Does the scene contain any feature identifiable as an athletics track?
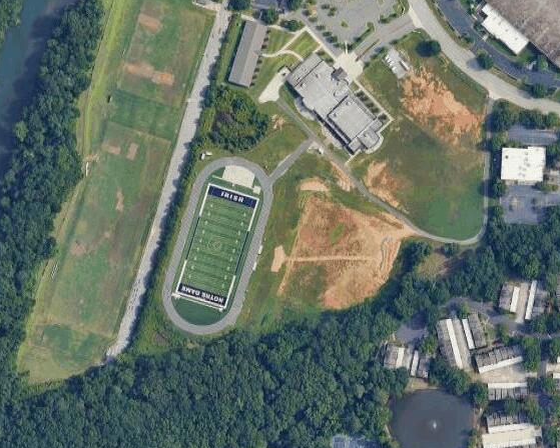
Yes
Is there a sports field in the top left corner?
Yes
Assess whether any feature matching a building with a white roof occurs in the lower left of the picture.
No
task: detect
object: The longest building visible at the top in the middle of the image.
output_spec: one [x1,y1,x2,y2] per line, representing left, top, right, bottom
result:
[287,53,382,154]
